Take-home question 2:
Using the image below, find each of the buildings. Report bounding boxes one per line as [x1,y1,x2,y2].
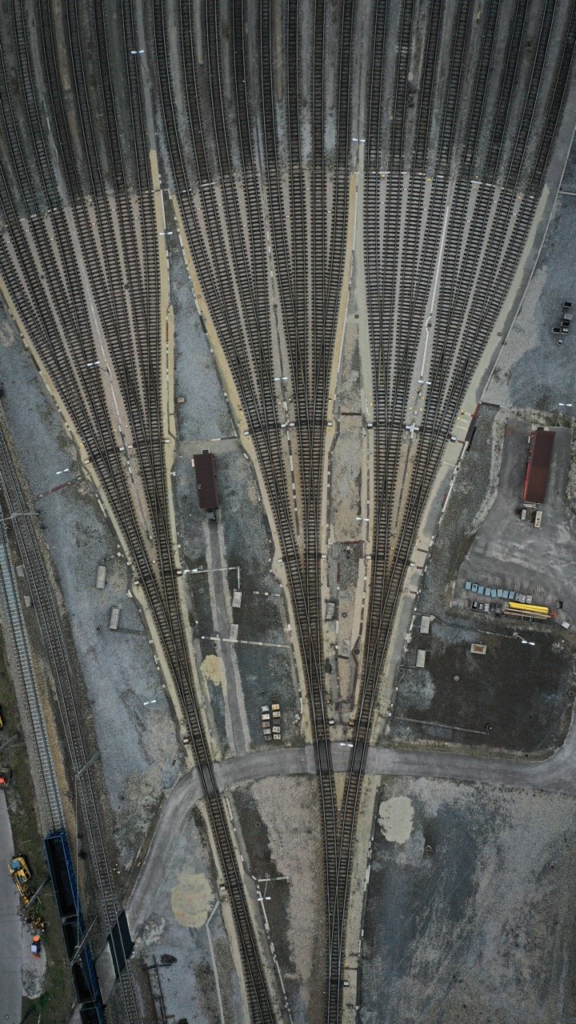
[518,431,555,503]
[194,454,218,510]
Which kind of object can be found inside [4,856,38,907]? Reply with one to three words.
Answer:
work vehicle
